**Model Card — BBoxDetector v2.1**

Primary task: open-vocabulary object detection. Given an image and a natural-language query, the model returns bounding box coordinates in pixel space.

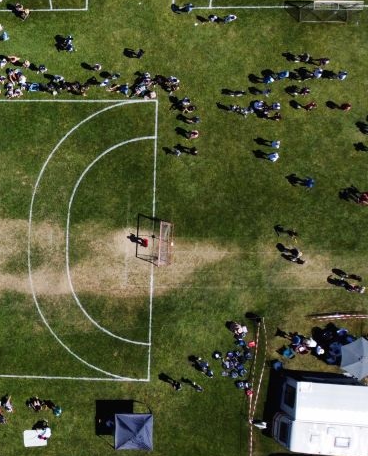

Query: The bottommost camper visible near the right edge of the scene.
[251,411,368,456]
